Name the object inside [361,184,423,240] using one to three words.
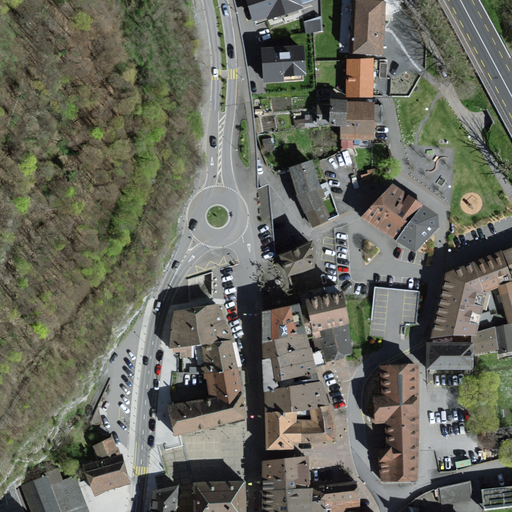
house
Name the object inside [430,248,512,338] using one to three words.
building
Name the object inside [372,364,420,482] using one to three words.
building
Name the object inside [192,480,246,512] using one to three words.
house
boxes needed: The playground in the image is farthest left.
[397,146,454,206]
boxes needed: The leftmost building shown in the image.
[20,467,90,512]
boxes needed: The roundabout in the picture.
[186,185,249,248]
